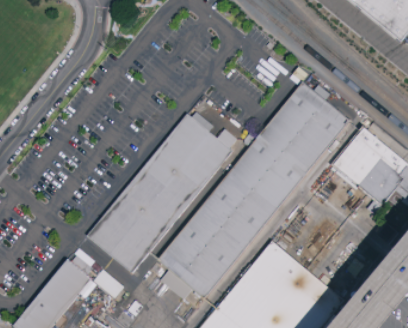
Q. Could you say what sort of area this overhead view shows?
industrial area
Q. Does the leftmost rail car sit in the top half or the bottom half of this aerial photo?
top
